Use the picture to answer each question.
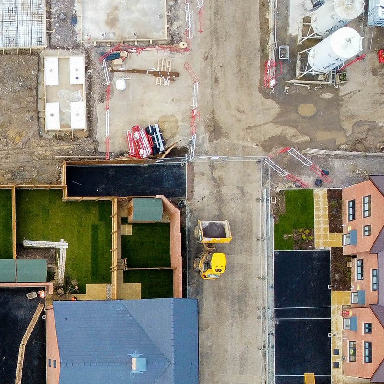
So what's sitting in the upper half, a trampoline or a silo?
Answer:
silo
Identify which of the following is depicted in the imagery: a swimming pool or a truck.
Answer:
truck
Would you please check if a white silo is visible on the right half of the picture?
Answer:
Yes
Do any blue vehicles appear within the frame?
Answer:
No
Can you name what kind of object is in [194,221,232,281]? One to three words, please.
truck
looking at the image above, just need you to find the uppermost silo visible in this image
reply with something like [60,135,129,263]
[281,0,365,54]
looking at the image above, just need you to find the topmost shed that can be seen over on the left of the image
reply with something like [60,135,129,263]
[128,198,163,223]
